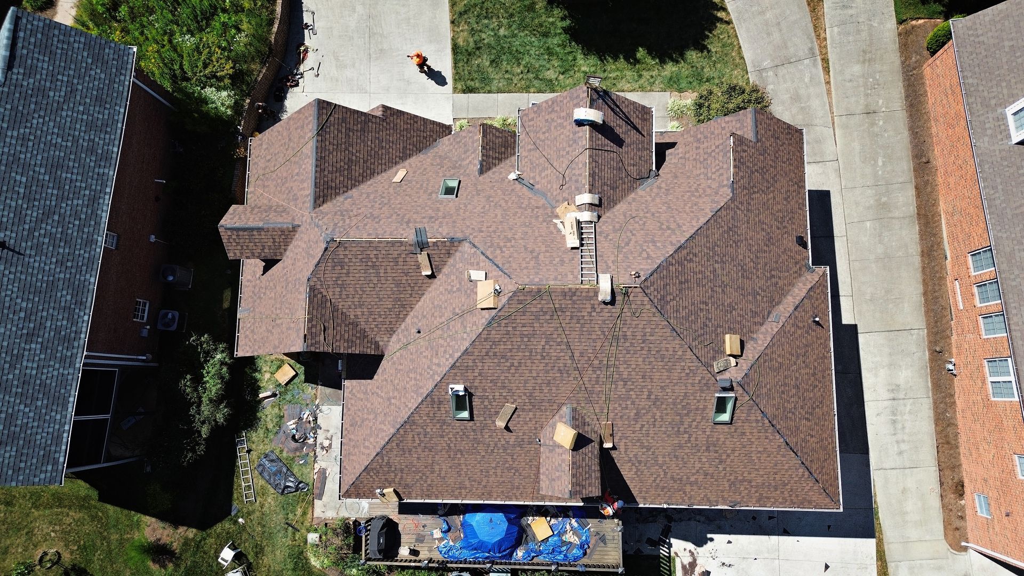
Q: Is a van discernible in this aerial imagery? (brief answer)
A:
No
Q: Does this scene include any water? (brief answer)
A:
No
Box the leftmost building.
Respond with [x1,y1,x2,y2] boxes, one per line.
[0,15,201,484]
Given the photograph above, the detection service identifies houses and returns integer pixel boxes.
[218,85,842,513]
[925,0,1024,571]
[0,15,201,484]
